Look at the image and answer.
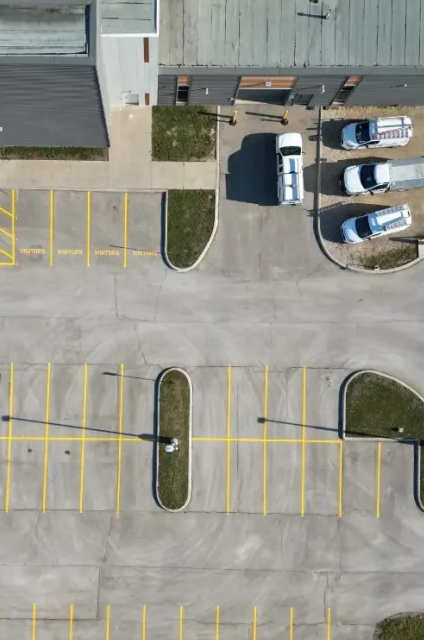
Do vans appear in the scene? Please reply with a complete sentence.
Yes, the image includes a van.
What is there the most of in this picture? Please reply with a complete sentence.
For the most part, this view shows paved ground.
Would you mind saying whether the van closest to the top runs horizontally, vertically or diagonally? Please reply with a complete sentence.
The van closest to the top runs horizontally in the image.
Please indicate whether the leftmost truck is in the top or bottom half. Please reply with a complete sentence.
It is in the top half that the leftmost truck appears.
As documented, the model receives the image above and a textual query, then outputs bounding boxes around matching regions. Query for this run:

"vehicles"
[340,116,412,152]
[339,203,411,245]
[338,161,424,196]
[275,131,307,206]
